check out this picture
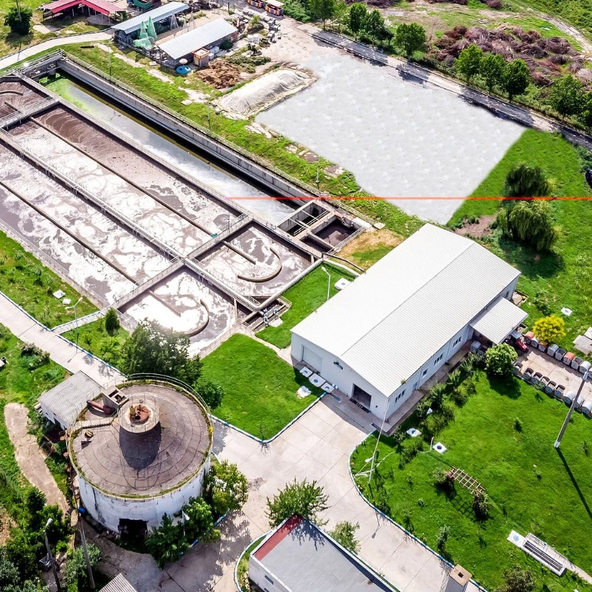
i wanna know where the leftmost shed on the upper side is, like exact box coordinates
[41,0,124,27]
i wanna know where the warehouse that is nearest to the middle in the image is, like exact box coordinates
[290,218,529,422]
